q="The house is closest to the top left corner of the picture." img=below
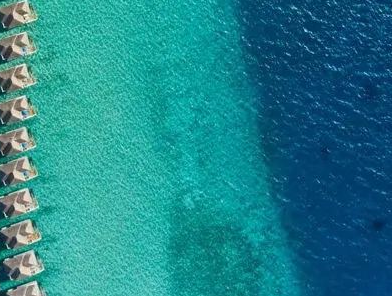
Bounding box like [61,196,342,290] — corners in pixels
[0,0,38,29]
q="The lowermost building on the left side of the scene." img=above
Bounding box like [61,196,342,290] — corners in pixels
[7,278,47,296]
